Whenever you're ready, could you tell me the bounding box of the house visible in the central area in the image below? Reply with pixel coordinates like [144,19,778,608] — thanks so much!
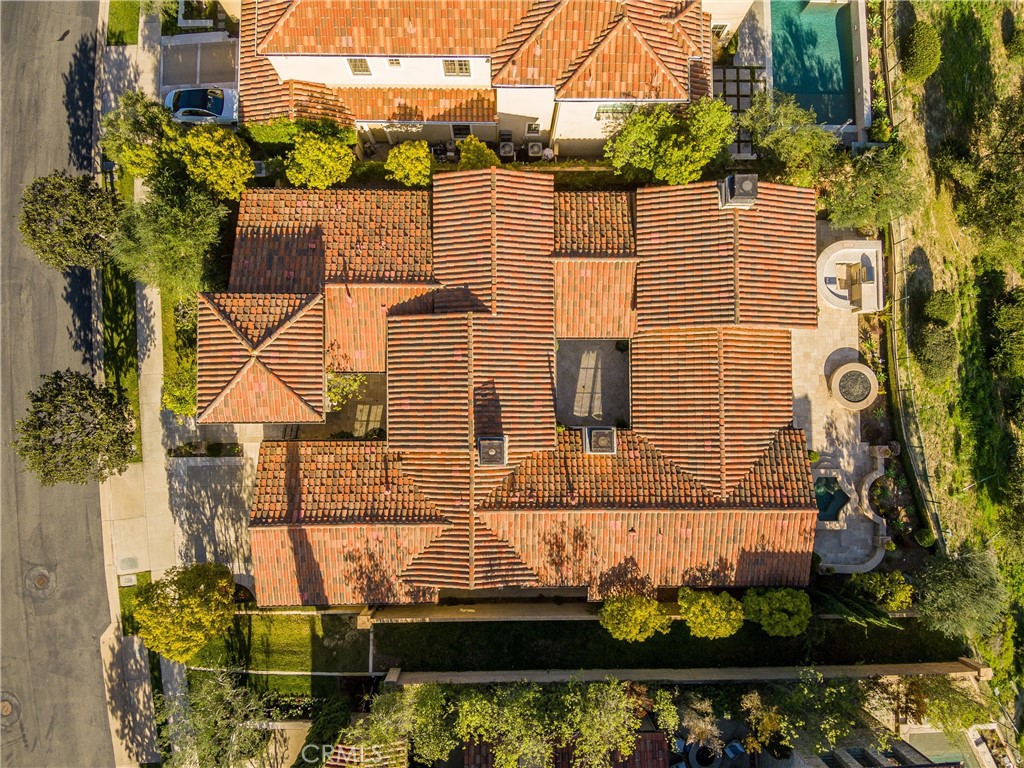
[195,168,818,608]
